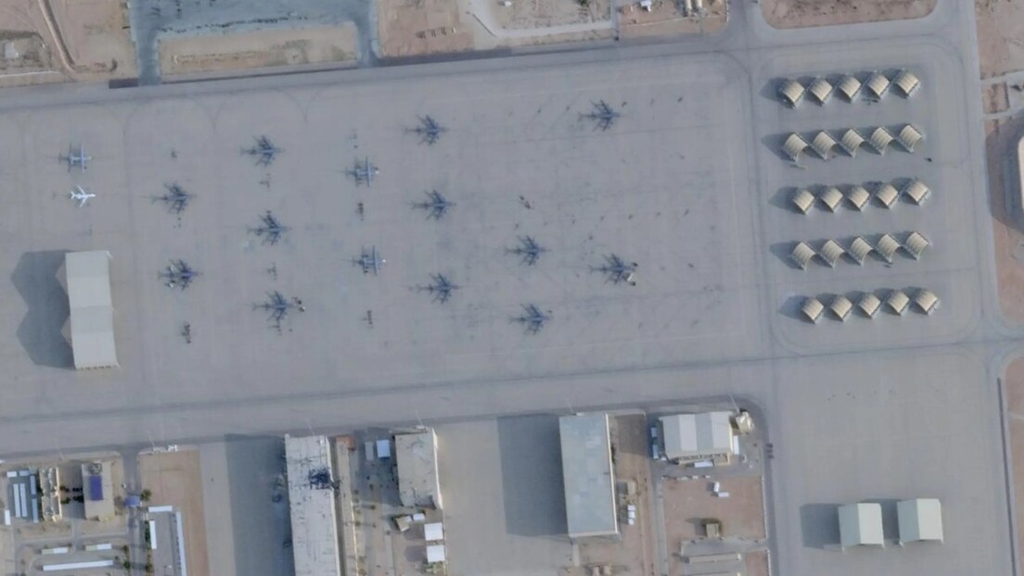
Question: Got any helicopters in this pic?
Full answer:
No, the picture doesn't show any helicopter.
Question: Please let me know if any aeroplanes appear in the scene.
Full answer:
Yes, the image includes an aeroplane.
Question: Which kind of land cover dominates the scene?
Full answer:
The scene is dominated by paved ground.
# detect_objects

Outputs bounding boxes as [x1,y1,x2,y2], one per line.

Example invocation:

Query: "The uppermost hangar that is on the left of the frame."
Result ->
[66,251,123,373]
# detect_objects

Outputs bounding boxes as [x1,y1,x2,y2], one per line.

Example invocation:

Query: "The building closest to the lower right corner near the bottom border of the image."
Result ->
[897,500,945,549]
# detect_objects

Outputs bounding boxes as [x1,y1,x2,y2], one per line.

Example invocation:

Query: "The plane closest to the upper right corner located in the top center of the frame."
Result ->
[586,100,621,131]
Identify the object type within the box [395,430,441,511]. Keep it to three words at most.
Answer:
hangar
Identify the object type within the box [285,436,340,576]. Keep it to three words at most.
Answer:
hangar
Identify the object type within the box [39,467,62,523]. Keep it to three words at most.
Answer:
building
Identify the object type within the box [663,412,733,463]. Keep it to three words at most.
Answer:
building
